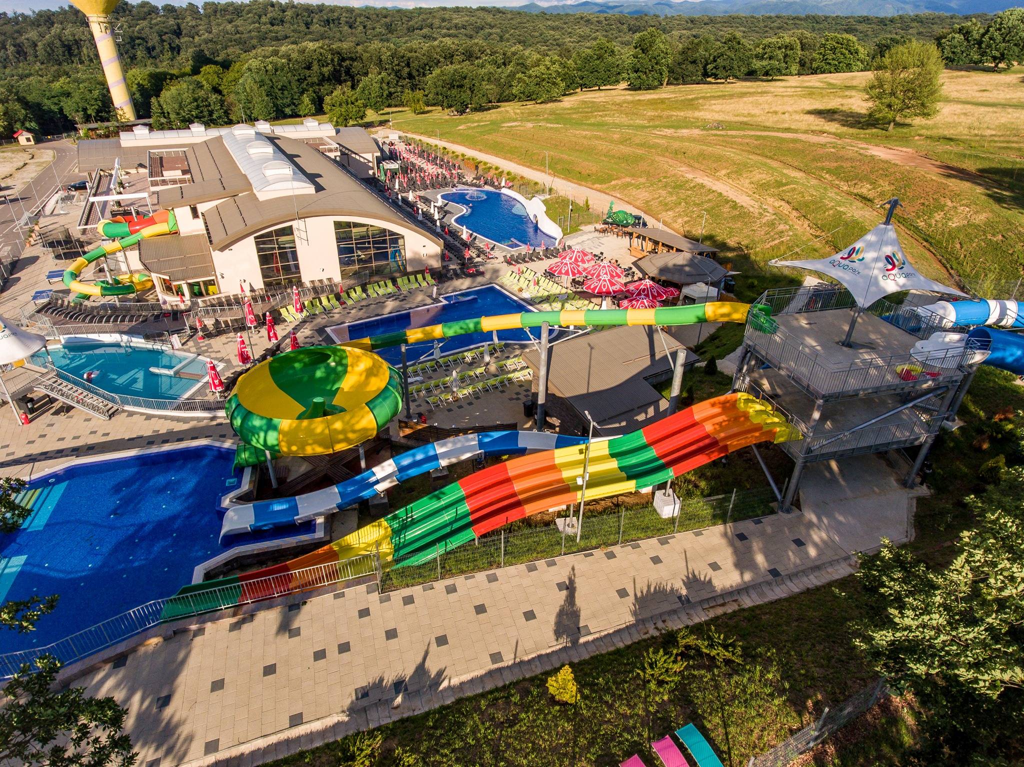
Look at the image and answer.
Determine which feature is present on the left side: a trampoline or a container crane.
trampoline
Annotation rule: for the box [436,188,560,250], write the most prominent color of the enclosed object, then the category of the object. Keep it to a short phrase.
blue swimming pool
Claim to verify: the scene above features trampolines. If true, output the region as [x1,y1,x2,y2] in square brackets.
[30,221,79,251]
[41,232,90,265]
